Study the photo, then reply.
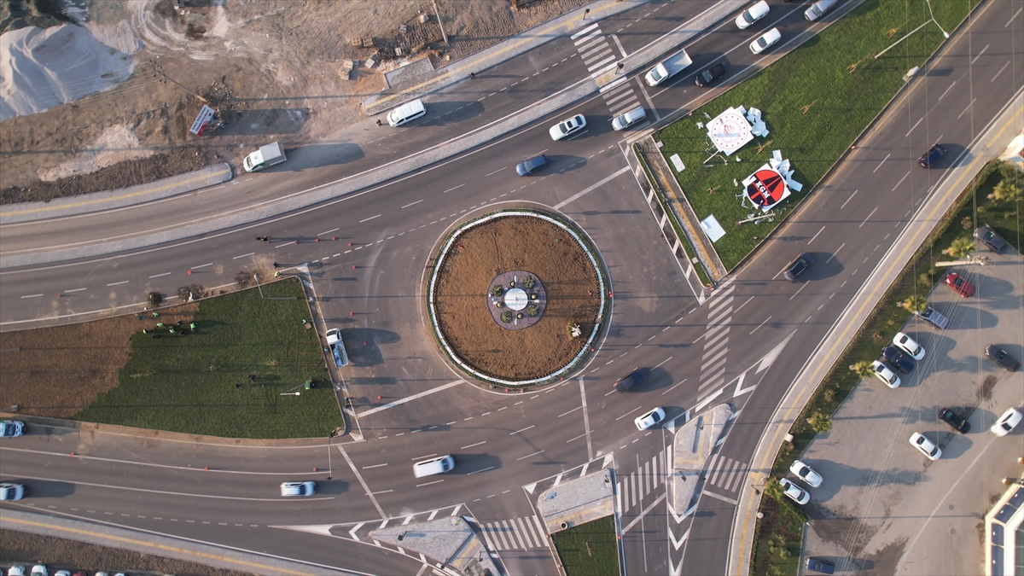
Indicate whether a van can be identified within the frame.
Yes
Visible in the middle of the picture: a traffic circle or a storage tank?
traffic circle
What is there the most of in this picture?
paved ground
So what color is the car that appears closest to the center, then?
blue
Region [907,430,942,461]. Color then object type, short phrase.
white car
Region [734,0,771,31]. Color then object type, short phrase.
white van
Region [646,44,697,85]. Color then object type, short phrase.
white truck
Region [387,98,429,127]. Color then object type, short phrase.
white van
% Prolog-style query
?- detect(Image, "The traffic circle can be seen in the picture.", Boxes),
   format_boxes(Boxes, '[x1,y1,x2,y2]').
[426,207,607,389]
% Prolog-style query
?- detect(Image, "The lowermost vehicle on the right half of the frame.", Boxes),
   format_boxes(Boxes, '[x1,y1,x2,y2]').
[804,555,837,575]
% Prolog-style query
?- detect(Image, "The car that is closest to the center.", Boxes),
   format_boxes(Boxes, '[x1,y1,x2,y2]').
[515,153,549,176]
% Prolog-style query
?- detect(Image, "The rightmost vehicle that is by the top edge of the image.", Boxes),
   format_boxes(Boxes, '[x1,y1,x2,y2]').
[802,0,841,24]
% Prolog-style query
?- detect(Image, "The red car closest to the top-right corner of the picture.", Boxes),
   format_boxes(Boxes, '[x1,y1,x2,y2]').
[941,272,978,299]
